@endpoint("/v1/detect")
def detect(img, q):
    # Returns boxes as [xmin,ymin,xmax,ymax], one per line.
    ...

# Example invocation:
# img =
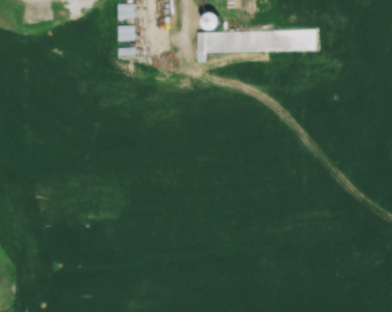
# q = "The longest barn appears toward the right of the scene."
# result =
[204,29,318,54]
